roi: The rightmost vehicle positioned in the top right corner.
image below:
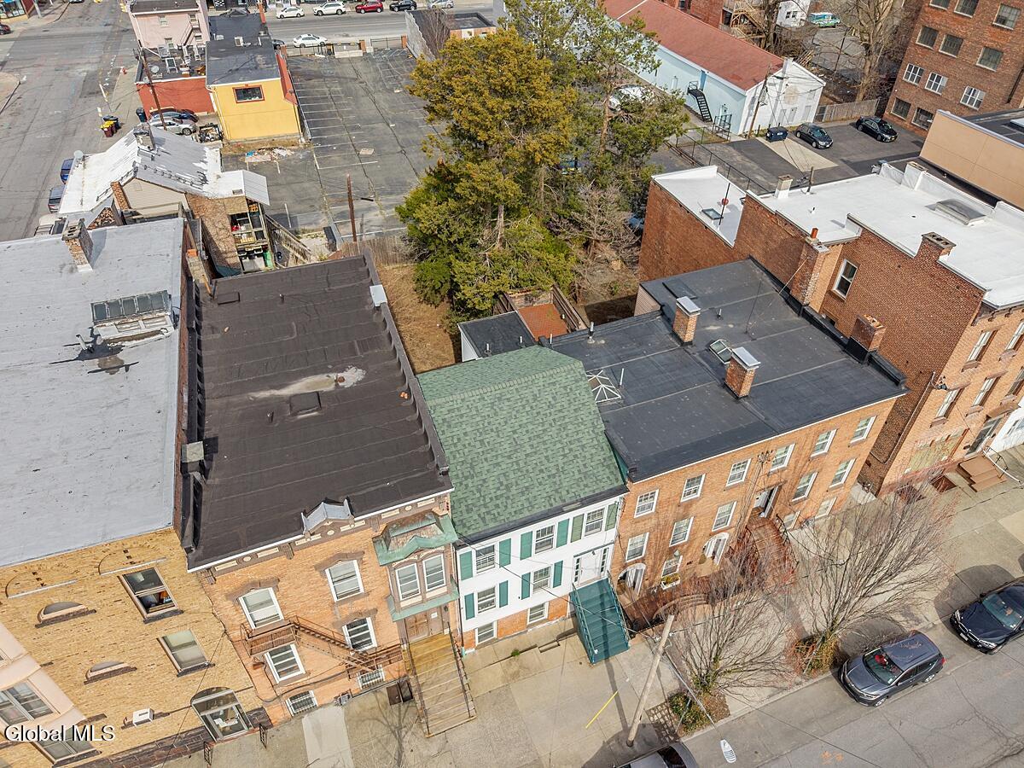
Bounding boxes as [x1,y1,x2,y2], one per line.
[849,118,897,142]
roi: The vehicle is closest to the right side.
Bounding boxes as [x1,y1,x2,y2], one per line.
[941,580,1024,661]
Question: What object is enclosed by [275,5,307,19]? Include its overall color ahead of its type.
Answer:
white car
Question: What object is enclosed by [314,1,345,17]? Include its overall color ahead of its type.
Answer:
white car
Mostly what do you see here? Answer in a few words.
buildings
